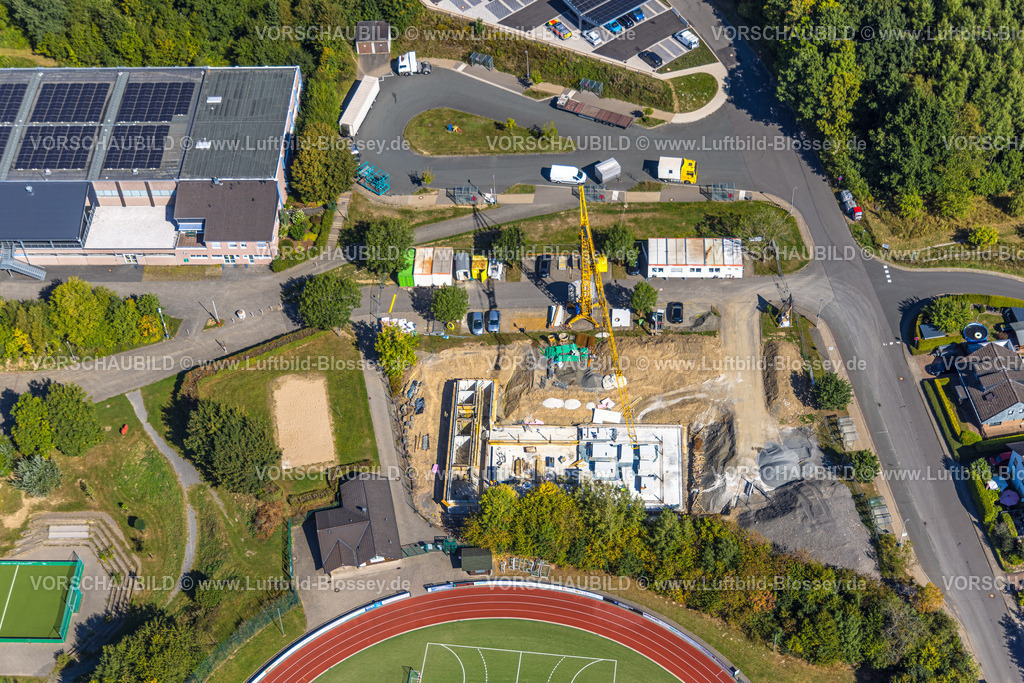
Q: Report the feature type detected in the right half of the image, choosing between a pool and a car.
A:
car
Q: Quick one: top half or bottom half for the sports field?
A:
bottom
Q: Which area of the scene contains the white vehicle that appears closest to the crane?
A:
top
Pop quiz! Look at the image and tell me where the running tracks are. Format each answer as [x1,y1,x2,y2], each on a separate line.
[265,589,731,683]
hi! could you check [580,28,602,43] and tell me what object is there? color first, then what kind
white car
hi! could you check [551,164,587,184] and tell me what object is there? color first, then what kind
white vehicle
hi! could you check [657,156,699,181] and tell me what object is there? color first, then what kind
white truck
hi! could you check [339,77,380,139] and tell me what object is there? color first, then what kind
white trailer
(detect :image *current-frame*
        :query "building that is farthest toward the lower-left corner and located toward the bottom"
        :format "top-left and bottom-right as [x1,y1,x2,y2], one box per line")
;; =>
[315,468,402,578]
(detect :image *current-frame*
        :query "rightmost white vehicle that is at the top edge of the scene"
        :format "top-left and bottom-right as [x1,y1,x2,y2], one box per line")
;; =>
[674,29,698,46]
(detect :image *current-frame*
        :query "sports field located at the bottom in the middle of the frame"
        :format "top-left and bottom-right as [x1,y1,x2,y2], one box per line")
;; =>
[308,615,688,683]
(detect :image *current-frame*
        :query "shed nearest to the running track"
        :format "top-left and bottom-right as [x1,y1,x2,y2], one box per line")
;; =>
[458,548,492,577]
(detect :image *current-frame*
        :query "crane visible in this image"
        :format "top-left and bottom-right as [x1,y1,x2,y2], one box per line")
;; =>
[566,182,638,446]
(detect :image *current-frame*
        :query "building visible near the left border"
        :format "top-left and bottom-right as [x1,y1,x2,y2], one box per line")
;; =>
[0,64,303,268]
